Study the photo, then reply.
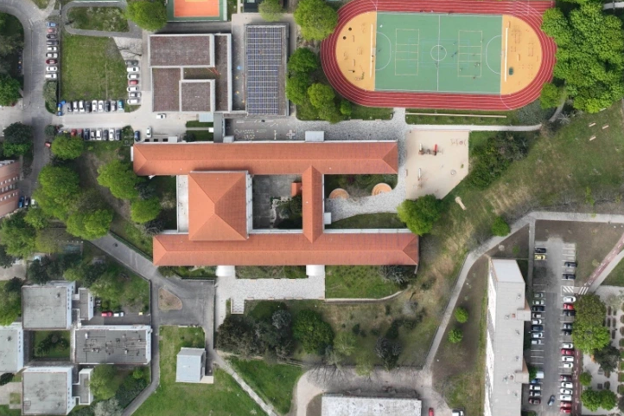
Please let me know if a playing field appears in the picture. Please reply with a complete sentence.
Yes, I can see a playing field in this picture.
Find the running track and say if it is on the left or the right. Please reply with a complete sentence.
It is on the right.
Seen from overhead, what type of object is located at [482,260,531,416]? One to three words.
building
